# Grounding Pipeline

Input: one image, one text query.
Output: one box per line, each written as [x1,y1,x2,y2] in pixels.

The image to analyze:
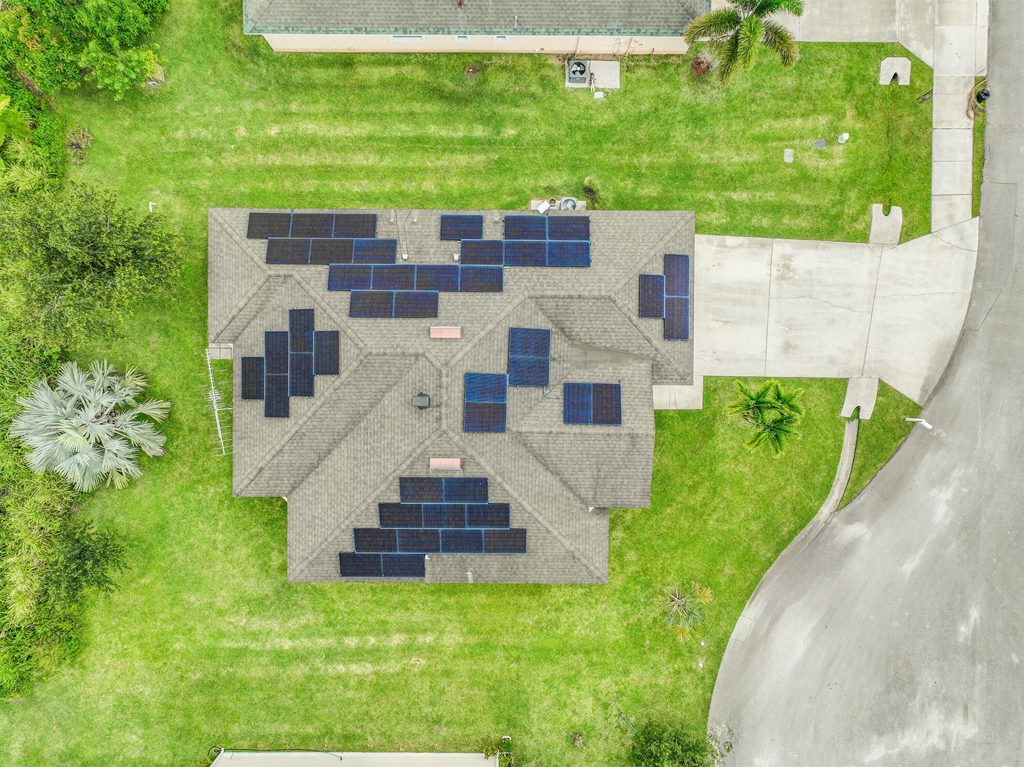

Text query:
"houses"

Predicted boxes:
[243,0,711,59]
[208,209,695,583]
[203,744,500,767]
